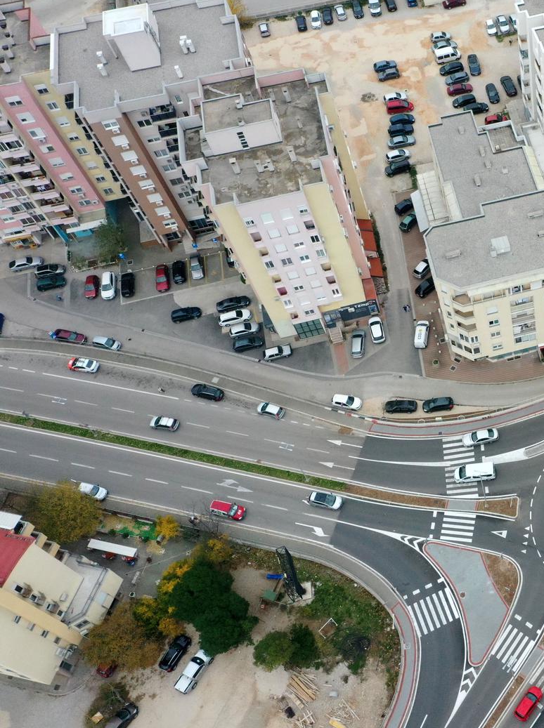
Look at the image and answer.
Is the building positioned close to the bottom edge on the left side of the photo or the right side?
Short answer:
left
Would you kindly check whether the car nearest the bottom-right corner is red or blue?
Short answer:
red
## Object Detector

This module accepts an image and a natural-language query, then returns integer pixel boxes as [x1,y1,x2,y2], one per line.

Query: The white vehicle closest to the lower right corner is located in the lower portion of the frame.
[454,461,497,486]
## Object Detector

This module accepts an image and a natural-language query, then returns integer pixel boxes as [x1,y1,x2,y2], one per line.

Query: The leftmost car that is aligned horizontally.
[8,253,44,273]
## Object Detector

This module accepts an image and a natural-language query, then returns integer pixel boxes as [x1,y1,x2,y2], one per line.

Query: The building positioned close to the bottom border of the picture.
[0,510,120,701]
